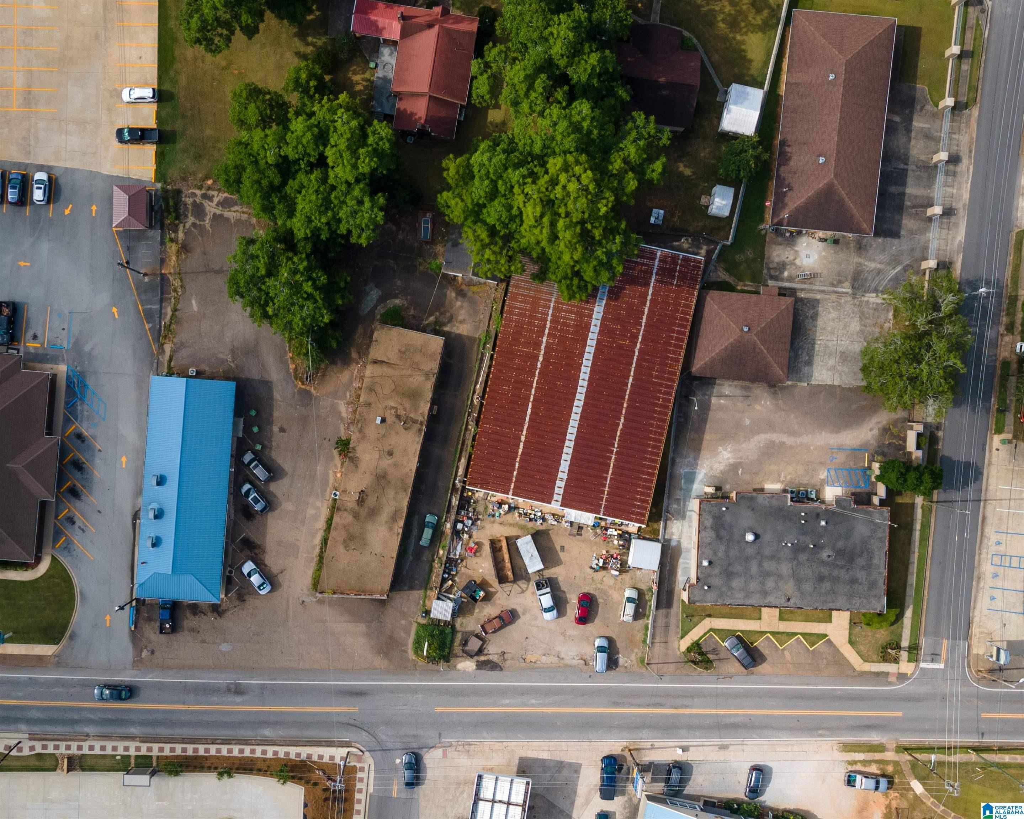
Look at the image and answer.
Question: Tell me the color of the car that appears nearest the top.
white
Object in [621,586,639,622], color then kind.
white car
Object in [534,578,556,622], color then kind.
white truck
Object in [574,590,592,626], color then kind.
red car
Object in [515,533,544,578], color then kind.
white trailer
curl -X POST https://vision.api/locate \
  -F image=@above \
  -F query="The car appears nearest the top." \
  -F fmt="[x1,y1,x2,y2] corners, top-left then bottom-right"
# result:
[123,85,161,105]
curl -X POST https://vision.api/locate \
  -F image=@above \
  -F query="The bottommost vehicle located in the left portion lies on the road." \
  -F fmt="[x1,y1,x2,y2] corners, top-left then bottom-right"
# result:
[400,750,418,789]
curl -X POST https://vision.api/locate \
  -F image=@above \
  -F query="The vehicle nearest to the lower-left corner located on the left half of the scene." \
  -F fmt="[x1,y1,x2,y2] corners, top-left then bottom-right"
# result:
[95,683,133,702]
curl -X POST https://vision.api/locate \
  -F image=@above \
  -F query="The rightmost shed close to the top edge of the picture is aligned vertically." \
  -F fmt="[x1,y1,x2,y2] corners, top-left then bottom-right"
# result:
[766,8,898,237]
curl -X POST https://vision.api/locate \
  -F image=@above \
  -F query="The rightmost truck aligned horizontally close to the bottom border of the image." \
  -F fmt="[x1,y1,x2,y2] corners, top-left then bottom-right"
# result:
[842,770,887,793]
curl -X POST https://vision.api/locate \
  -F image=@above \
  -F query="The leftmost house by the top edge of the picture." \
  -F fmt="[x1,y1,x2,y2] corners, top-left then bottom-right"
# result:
[351,0,479,144]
